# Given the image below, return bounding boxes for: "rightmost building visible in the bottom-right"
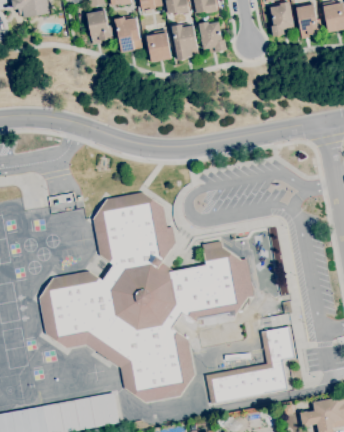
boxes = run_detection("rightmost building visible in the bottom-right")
[297,398,344,432]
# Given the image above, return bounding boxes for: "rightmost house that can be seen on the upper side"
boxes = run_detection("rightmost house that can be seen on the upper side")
[322,2,344,34]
